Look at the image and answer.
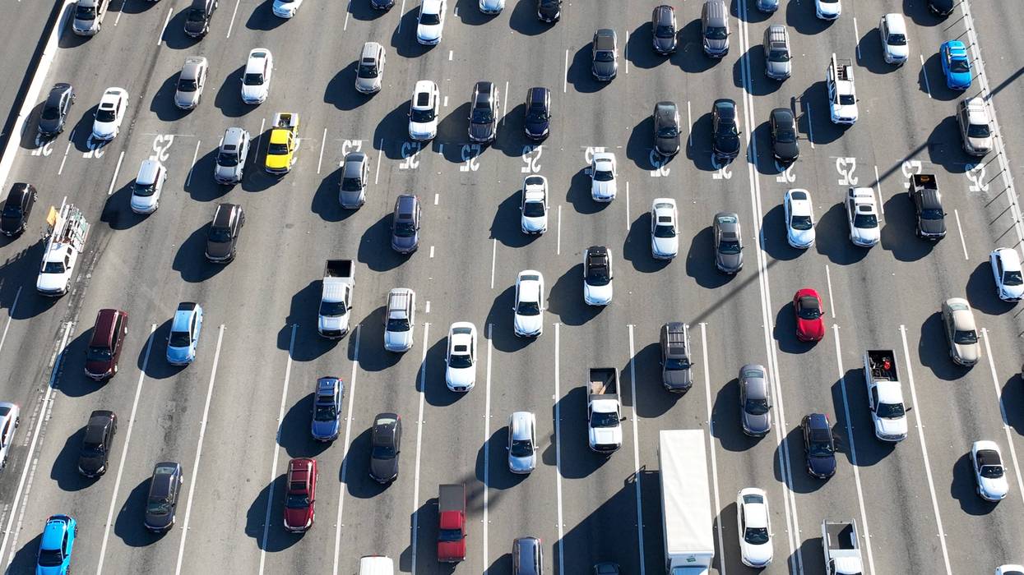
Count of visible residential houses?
0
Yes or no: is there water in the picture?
No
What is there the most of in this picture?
paved ground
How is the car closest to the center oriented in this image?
vertically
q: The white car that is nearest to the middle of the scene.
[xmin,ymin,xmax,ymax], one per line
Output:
[513,272,545,338]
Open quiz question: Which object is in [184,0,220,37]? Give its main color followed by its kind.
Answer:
black car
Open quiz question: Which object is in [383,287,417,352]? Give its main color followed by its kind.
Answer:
white car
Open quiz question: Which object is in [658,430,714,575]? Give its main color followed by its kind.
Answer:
white truck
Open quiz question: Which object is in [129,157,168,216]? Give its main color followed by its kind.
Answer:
white vehicle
